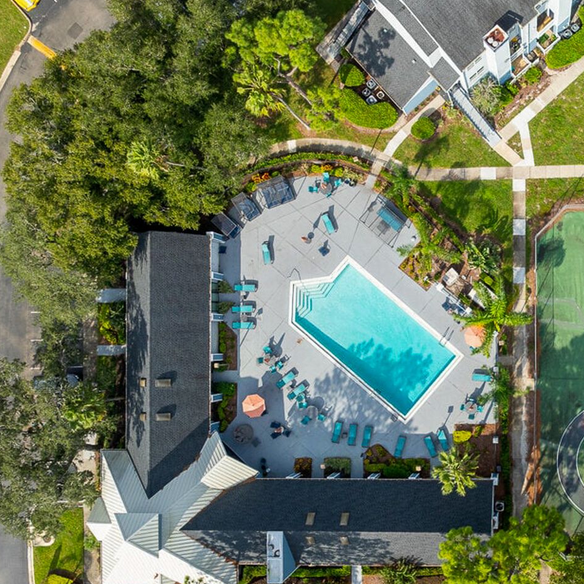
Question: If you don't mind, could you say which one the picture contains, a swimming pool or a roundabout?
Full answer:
I can see a swimming pool in this picture.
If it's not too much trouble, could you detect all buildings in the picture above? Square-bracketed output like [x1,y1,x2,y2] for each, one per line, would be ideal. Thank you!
[346,0,584,115]
[87,230,494,584]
